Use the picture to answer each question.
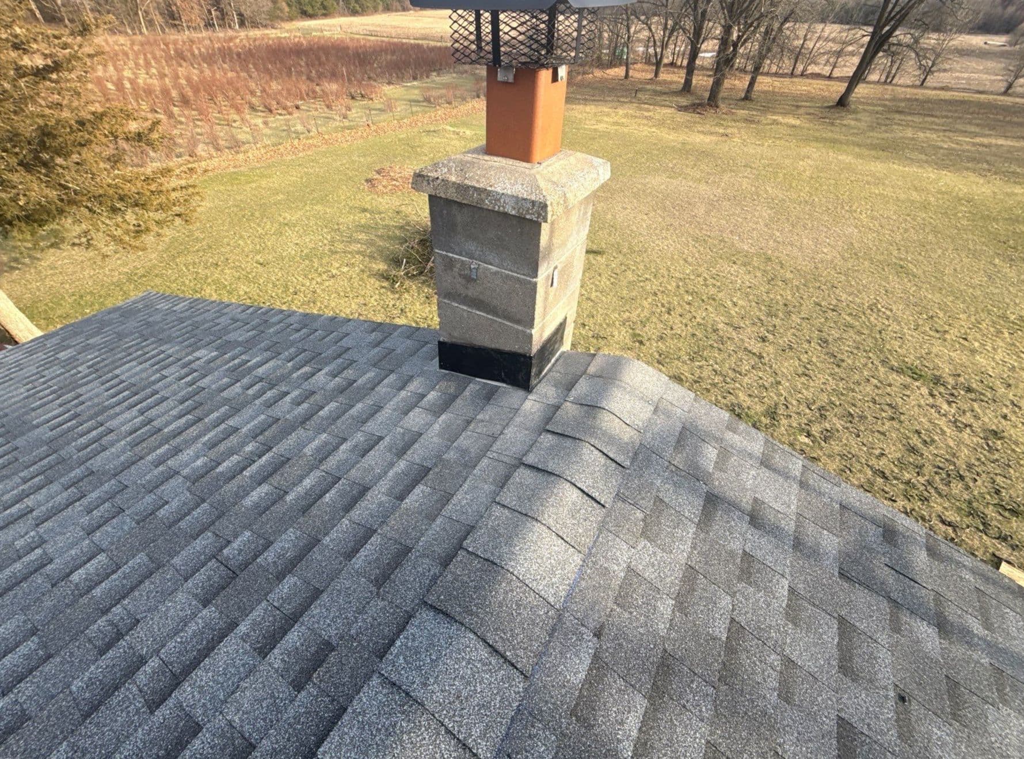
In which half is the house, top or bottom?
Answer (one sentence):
You can find the house in the bottom half.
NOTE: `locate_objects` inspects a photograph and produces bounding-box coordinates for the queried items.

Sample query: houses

[0,291,1024,759]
